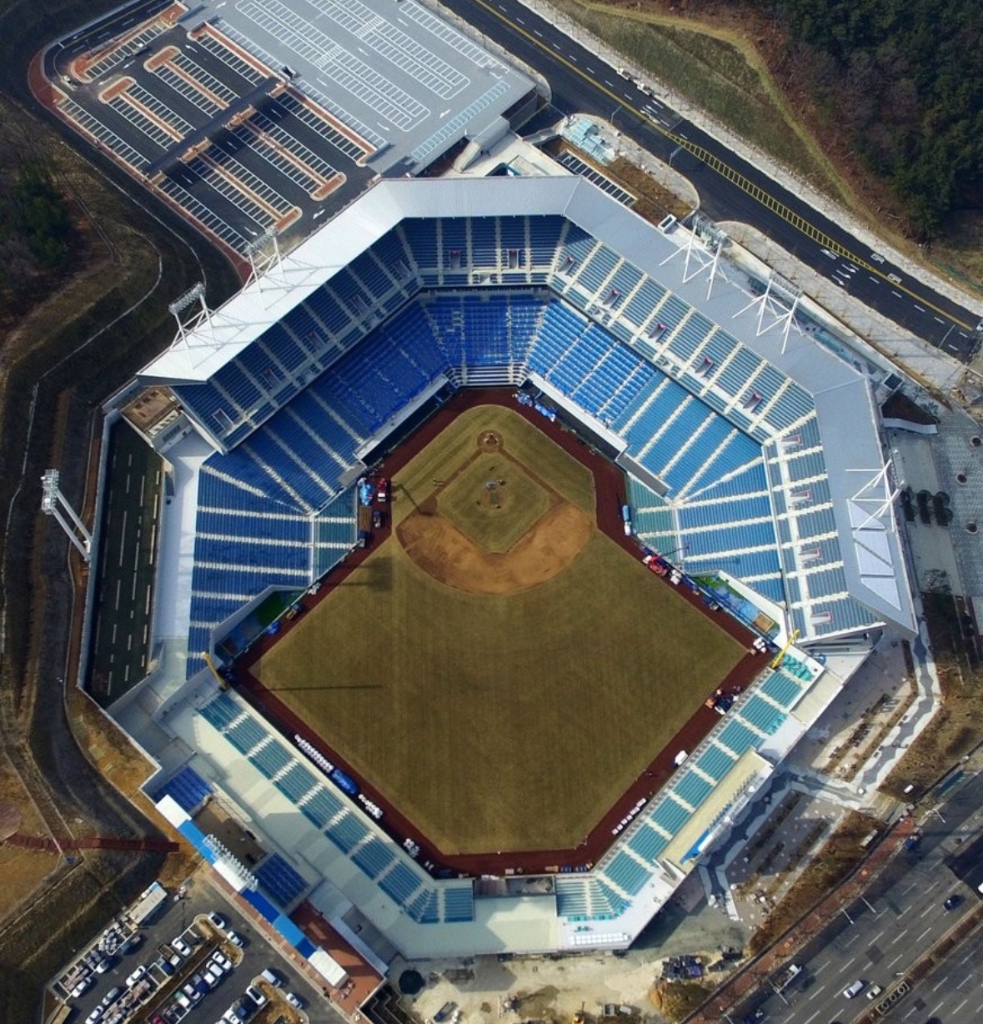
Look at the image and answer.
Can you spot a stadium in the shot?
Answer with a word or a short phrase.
Yes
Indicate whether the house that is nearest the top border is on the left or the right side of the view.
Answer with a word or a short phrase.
left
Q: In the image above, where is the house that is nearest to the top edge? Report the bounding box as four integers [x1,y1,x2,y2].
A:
[122,385,191,454]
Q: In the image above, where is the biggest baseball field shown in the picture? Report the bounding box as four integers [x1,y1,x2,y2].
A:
[227,386,770,880]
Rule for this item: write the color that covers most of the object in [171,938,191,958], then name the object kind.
white car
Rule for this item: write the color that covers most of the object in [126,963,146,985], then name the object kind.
white car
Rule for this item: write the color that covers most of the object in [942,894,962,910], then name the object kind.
black car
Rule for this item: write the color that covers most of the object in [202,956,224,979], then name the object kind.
white vehicle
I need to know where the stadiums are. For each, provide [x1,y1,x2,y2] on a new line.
[78,174,926,1020]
